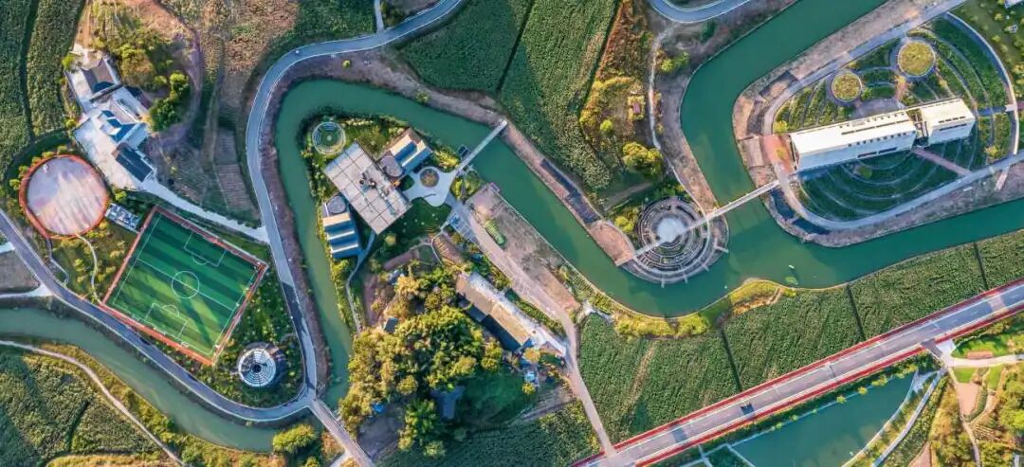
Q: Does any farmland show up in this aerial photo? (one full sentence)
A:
Yes, some farmland is visible.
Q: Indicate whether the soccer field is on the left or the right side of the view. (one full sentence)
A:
The soccer field is on the left side of the image.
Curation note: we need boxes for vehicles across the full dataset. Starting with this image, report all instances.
[139,337,150,346]
[739,405,754,415]
[187,373,198,382]
[293,48,301,54]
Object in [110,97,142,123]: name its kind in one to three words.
house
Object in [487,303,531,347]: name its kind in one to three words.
house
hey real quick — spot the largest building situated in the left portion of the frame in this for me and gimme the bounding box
[322,141,412,234]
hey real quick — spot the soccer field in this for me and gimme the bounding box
[103,207,268,365]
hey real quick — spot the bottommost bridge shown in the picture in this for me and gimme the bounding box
[304,395,376,467]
